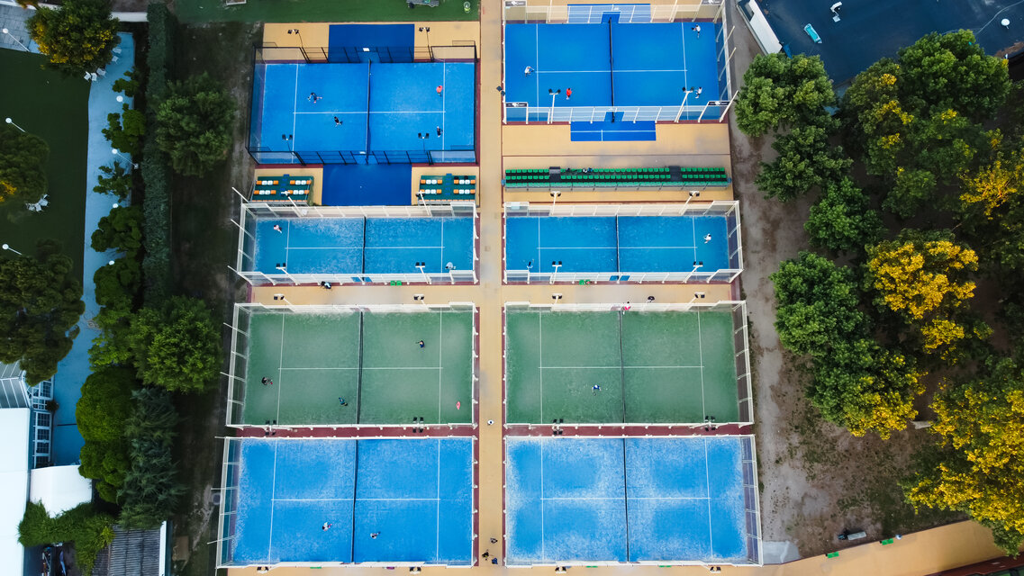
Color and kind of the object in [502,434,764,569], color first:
blue sports court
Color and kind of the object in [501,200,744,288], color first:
blue sports court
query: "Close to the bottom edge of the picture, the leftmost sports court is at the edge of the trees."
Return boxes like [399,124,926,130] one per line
[203,435,479,572]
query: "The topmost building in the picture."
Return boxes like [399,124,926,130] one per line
[732,0,783,58]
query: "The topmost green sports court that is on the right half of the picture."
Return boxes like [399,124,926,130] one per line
[501,299,755,429]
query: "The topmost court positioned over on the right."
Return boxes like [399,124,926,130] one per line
[501,0,741,127]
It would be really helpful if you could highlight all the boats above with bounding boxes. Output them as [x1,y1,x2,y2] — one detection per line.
[805,24,824,43]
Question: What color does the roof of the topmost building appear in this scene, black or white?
white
